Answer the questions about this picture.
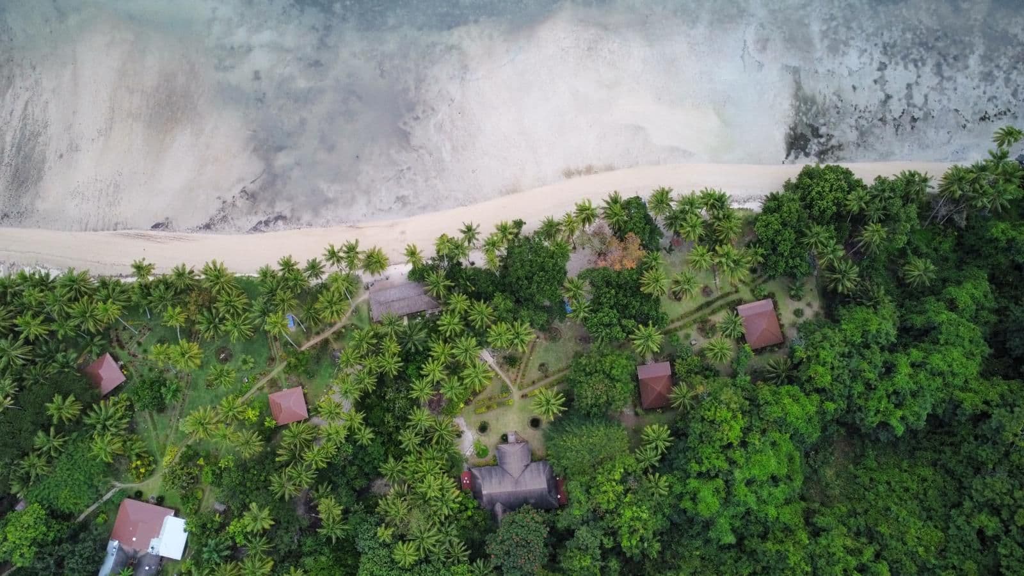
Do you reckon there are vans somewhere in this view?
No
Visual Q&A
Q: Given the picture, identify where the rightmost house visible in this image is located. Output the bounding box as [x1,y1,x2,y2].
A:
[735,299,785,351]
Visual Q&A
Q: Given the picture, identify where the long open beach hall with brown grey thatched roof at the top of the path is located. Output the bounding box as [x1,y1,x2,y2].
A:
[369,282,441,323]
